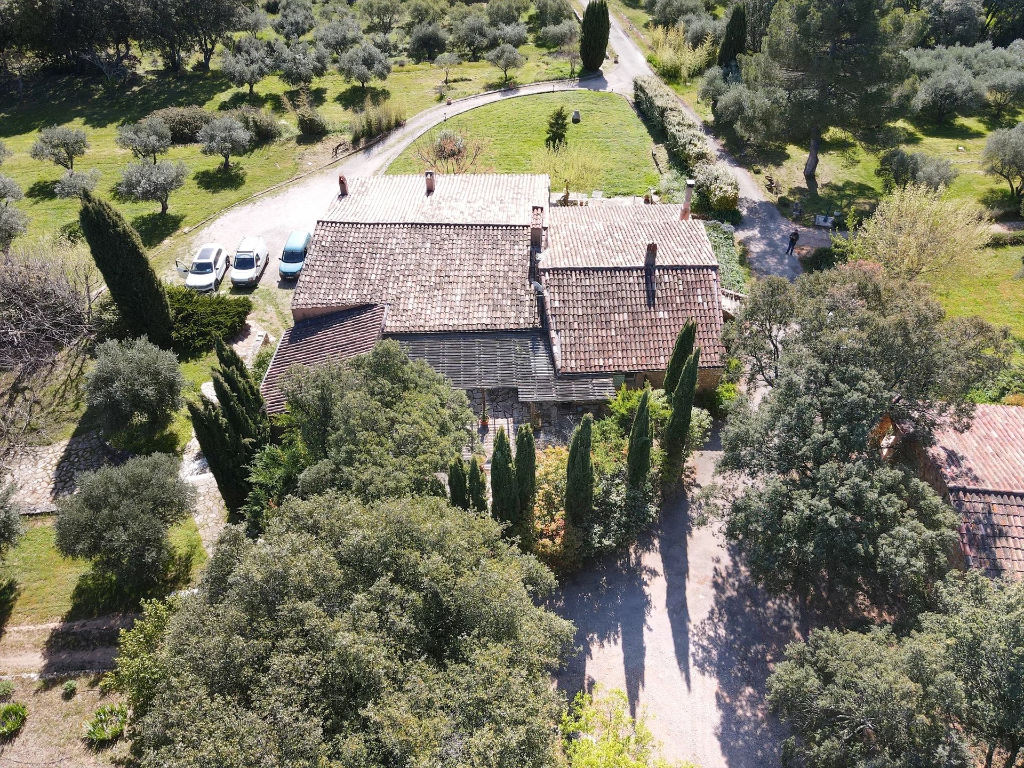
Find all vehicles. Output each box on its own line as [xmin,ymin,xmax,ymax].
[172,244,233,295]
[227,224,276,286]
[275,220,312,278]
